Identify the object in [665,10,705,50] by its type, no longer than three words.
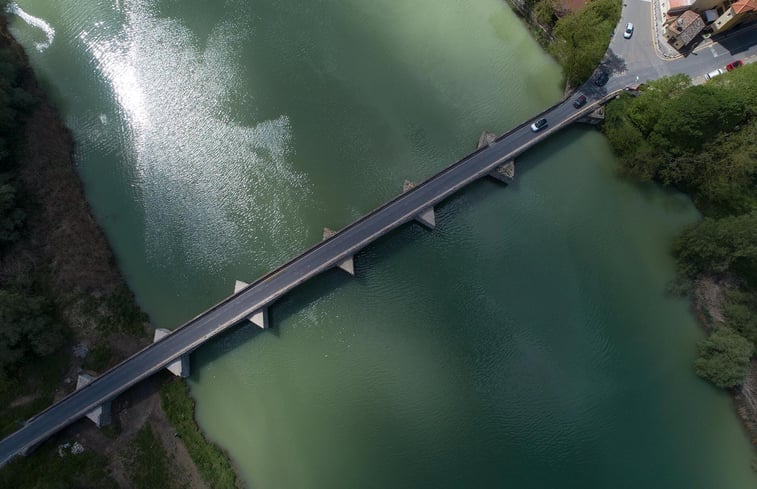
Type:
house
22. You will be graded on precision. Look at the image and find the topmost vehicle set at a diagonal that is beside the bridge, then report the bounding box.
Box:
[594,68,610,85]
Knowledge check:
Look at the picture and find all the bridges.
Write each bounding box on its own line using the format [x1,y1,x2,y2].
[23,78,625,445]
